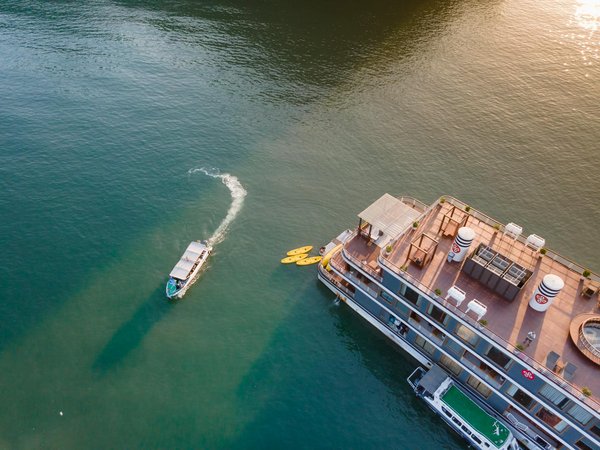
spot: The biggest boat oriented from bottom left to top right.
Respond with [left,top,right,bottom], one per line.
[169,242,217,299]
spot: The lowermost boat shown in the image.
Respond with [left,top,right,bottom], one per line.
[406,367,529,450]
